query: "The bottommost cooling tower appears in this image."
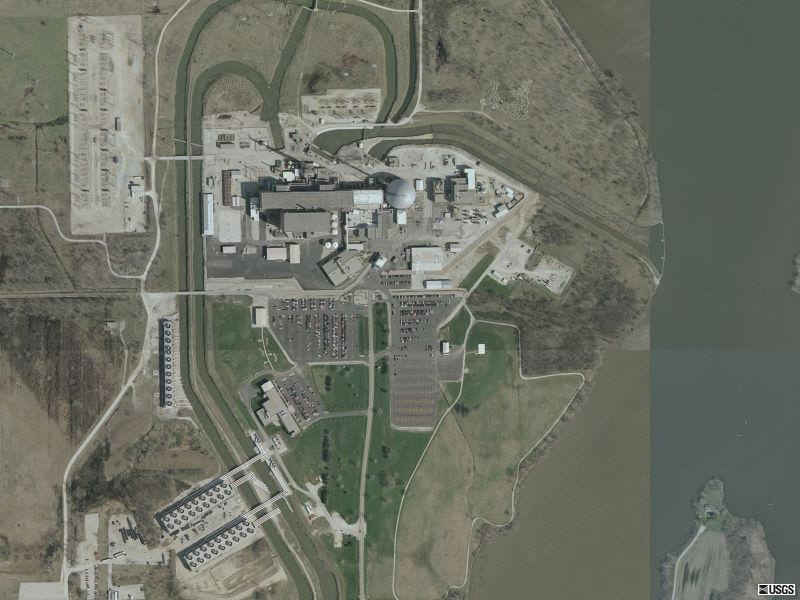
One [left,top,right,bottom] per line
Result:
[182,516,258,571]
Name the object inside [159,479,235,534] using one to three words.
cooling tower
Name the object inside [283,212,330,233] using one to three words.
building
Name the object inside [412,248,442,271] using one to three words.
building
